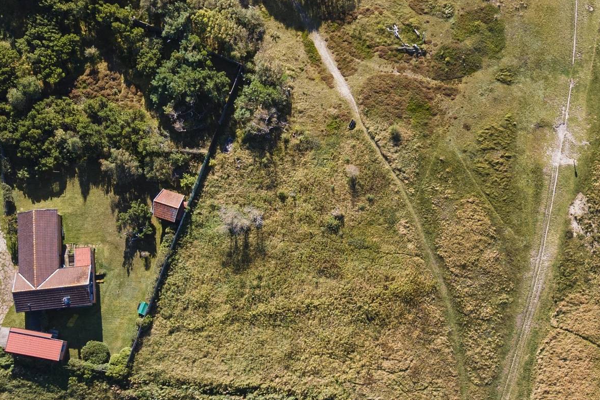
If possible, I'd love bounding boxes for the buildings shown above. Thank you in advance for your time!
[153,189,186,222]
[4,327,71,361]
[11,209,100,312]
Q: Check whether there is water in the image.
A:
No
